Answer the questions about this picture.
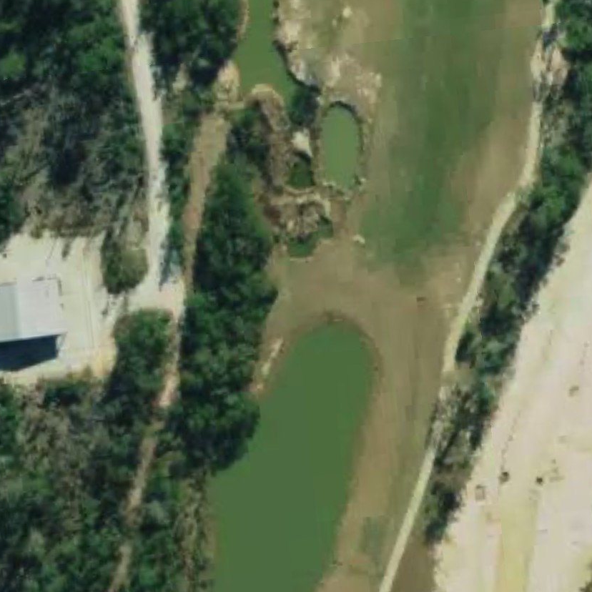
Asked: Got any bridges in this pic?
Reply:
No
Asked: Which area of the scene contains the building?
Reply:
left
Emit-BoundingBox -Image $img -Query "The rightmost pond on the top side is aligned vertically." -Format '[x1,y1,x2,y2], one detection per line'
[323,105,360,187]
